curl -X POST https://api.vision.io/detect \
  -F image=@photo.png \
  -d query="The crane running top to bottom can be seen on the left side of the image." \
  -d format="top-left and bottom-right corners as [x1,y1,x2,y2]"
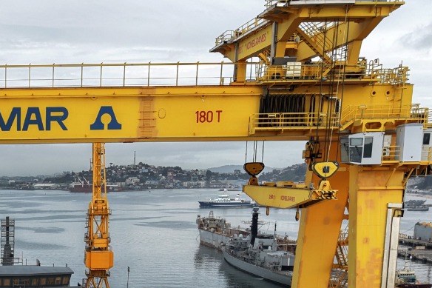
[79,143,111,288]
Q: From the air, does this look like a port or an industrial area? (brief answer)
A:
port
